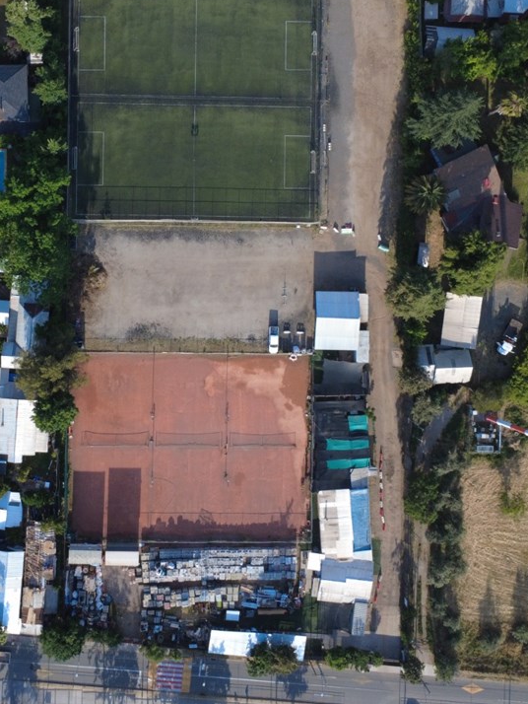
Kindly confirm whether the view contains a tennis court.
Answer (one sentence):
Yes, I can see a tennis court in this picture.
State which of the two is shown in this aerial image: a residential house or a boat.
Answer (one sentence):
Visible in the photo is a residential house.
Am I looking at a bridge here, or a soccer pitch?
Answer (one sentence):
There is a soccer pitch in the scene.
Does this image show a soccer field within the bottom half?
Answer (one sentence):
No, there's no soccer field to be seen within the bottom half.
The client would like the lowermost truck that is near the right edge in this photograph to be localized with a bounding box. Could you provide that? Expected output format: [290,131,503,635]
[496,318,521,354]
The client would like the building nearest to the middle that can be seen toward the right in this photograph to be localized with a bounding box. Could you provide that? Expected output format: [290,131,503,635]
[313,290,370,363]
